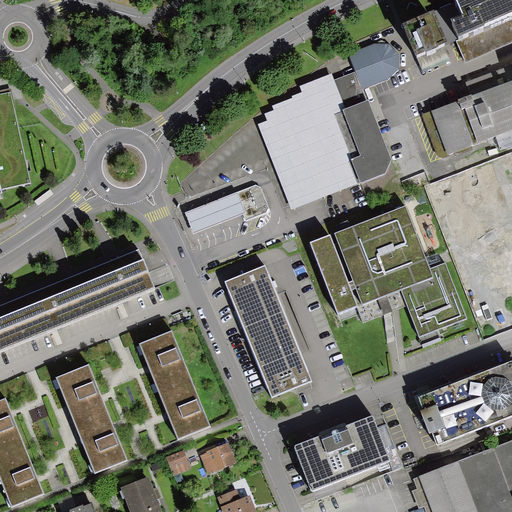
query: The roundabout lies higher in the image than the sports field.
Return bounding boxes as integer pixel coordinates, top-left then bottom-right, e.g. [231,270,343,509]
[0,8,48,66]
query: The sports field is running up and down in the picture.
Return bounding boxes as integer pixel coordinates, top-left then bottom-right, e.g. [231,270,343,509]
[0,92,30,190]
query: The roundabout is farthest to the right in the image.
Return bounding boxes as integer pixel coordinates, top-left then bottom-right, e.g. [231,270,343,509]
[85,128,163,204]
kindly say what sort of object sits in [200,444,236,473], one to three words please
house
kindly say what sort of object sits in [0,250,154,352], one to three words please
building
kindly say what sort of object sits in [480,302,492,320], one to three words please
vehicle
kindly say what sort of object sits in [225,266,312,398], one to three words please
building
